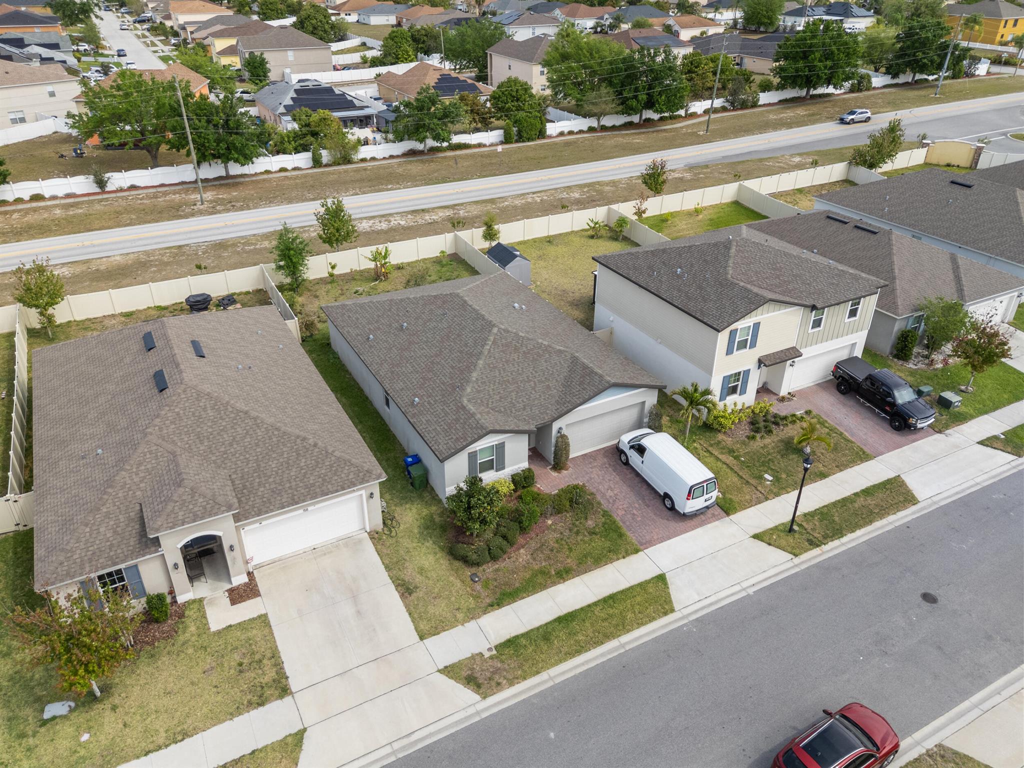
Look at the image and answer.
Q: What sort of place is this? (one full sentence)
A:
This image shows a residential area.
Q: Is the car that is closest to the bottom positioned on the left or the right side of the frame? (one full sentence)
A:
The car that is closest to the bottom appears in the right half of the scene.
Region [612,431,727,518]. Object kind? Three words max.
van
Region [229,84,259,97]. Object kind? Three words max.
vehicle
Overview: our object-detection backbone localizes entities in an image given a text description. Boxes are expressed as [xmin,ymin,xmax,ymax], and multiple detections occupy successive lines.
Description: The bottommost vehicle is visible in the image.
[763,700,902,768]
